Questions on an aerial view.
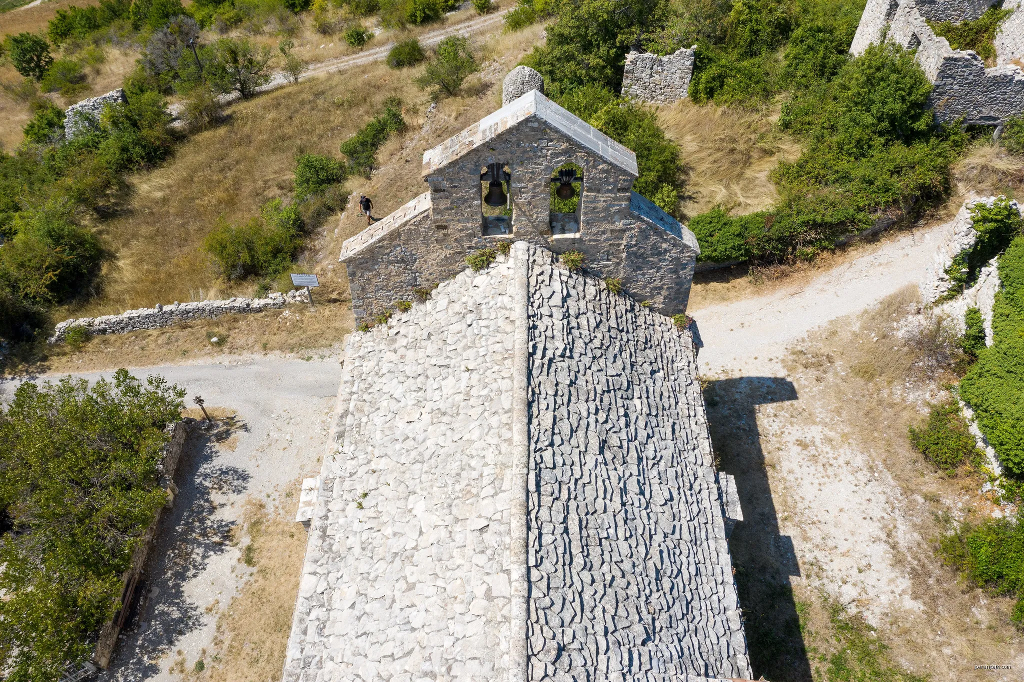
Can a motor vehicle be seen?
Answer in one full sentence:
No, I find no motor vehicle anywhere in the image.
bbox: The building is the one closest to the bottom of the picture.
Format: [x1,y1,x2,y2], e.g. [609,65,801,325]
[283,93,762,682]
